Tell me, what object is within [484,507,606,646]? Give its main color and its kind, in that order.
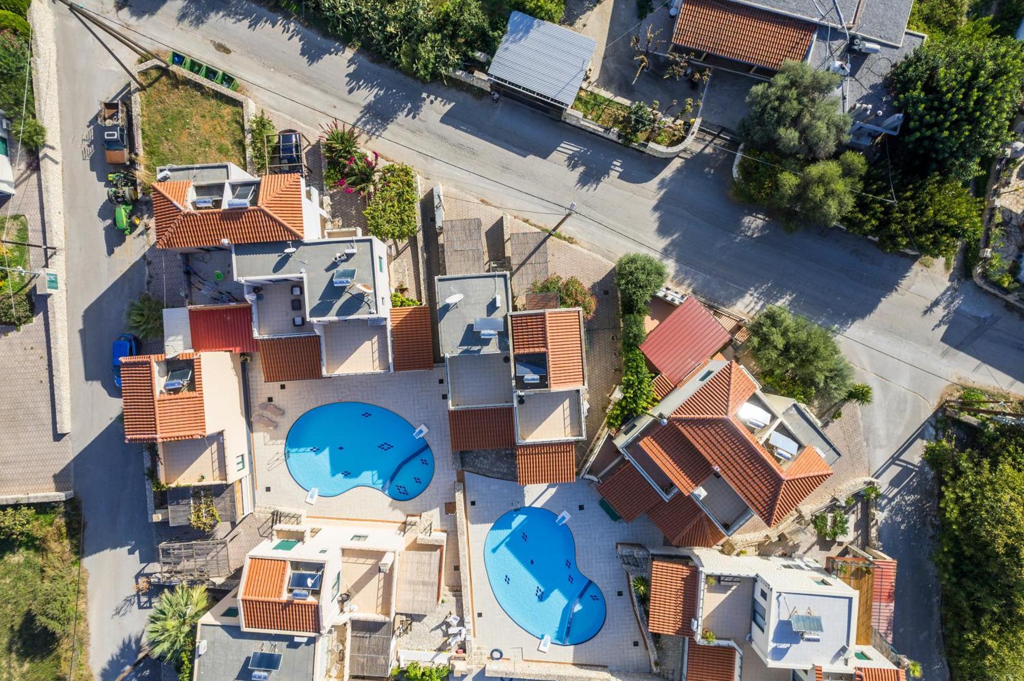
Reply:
blue swimming pool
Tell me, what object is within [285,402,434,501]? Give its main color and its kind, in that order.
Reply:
blue swimming pool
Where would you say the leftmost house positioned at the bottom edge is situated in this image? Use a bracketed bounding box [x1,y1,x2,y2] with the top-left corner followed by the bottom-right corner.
[194,515,449,681]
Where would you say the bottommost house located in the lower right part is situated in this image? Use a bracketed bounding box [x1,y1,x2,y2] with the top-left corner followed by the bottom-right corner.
[648,554,904,681]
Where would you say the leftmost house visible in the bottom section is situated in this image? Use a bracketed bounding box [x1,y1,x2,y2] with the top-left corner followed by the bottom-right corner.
[119,351,259,513]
